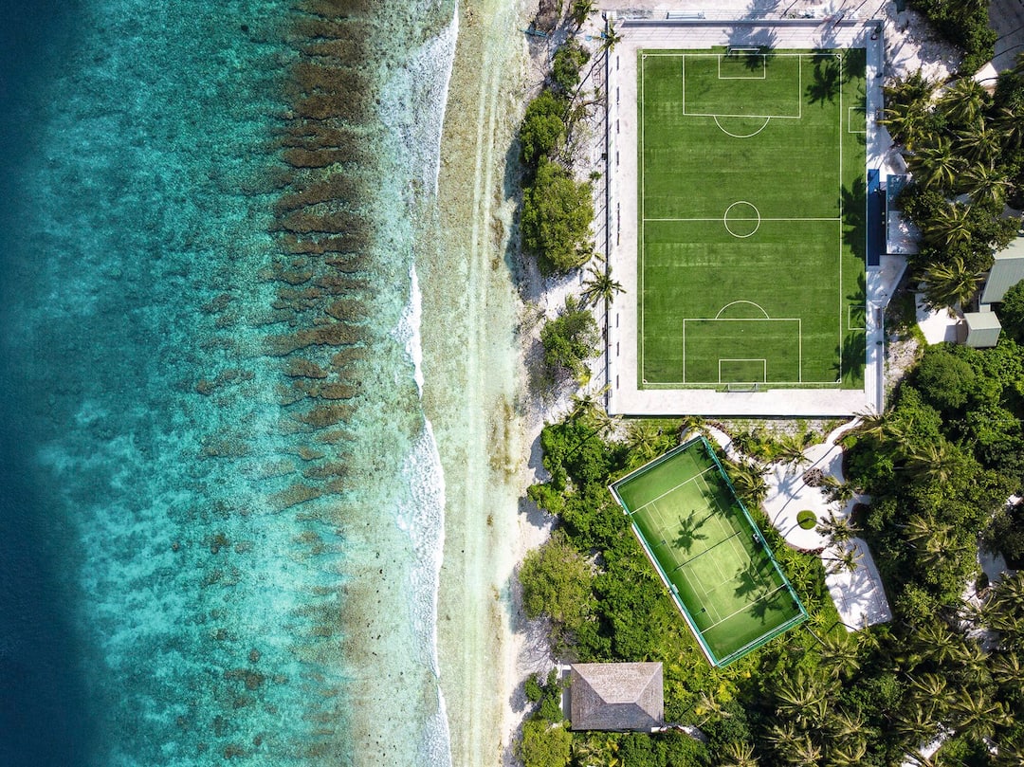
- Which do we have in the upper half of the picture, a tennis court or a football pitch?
football pitch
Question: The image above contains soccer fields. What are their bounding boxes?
[637,45,866,392]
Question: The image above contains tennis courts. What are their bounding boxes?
[614,437,803,663]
